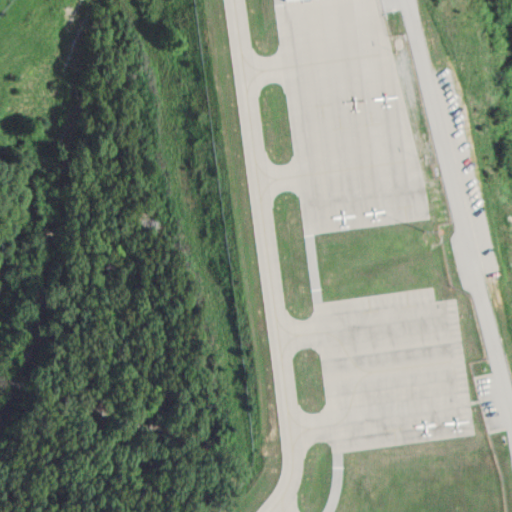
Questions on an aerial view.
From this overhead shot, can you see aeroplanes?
Yes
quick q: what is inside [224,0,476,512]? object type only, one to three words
airport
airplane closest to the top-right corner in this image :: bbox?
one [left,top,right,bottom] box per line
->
[374,92,398,109]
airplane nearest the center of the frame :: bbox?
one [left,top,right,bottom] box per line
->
[332,211,356,228]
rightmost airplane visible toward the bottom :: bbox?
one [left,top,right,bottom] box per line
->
[445,417,470,434]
